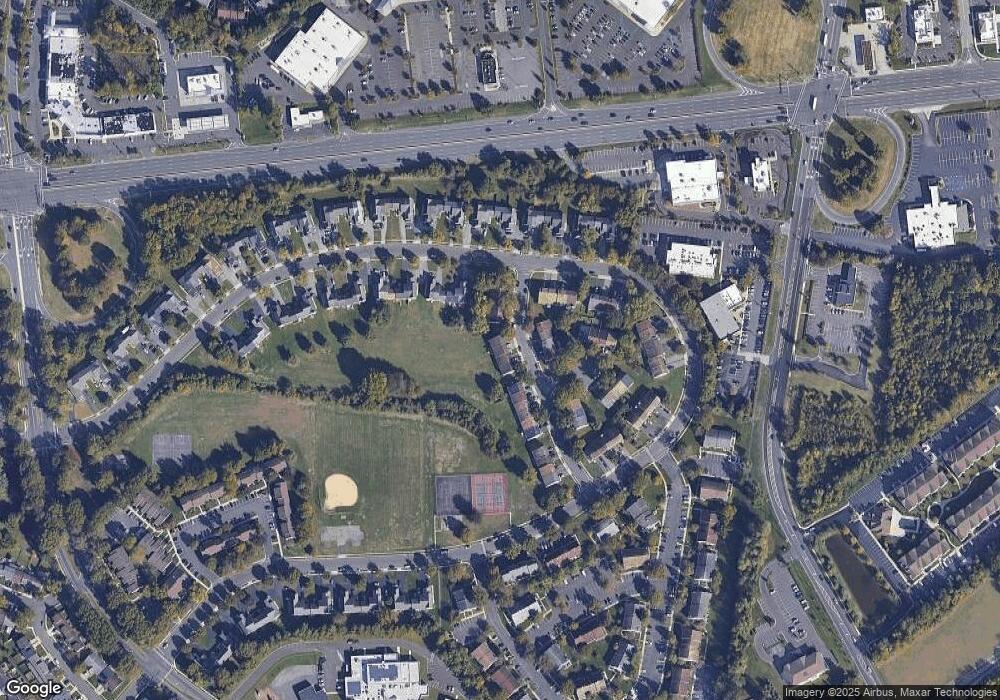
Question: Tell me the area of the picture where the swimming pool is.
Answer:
bottom right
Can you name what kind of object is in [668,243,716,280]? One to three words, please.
building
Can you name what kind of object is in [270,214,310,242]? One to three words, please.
house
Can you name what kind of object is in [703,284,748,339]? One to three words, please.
building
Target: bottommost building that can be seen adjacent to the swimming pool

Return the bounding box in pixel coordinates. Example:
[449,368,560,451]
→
[891,529,955,586]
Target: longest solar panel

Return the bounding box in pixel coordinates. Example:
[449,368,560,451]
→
[370,666,397,680]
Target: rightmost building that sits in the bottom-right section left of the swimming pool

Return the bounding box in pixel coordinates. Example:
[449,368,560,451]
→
[877,509,897,537]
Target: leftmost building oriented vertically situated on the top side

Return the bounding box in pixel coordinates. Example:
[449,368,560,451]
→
[44,27,102,139]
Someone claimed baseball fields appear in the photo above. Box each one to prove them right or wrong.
[319,474,357,517]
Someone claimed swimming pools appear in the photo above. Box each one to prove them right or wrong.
[897,512,920,535]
